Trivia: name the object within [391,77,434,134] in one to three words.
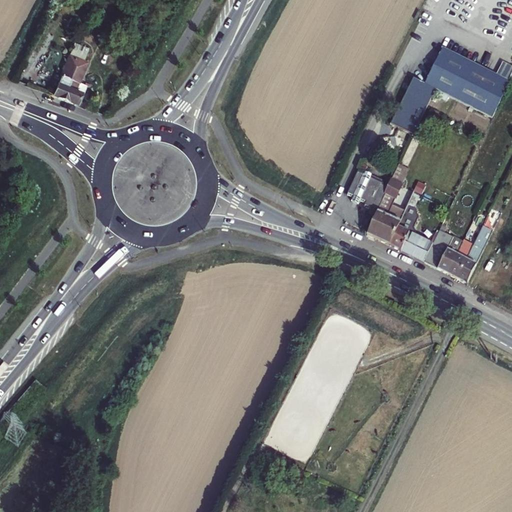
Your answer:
building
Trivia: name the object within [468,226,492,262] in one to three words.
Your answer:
shed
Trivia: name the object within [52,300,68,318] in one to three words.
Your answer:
vehicle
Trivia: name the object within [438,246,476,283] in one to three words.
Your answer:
house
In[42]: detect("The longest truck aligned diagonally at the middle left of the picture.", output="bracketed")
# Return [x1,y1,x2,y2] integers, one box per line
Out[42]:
[92,246,128,279]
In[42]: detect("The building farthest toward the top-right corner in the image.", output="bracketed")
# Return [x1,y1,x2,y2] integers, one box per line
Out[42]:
[424,46,510,118]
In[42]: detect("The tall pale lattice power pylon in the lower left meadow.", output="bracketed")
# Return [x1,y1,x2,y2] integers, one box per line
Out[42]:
[0,414,28,446]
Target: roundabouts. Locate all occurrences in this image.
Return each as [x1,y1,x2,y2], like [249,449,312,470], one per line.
[90,119,220,249]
